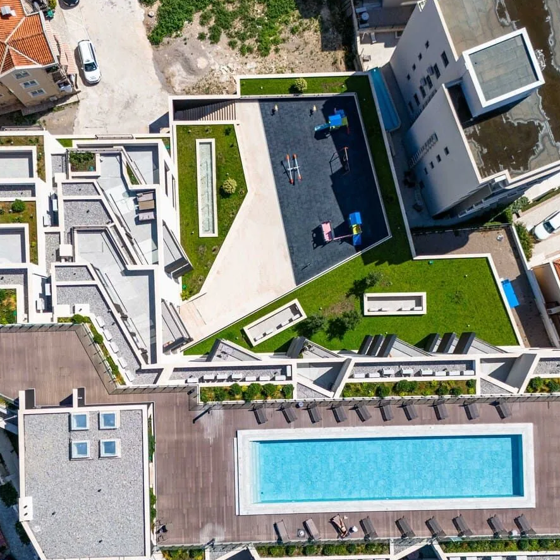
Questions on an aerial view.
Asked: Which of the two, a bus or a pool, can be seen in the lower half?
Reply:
pool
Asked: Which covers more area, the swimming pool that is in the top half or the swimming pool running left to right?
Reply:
the swimming pool running left to right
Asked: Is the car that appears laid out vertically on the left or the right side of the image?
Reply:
left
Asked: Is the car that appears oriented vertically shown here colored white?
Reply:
Yes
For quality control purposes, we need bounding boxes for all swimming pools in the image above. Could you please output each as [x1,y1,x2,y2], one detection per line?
[268,435,518,499]
[373,71,399,134]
